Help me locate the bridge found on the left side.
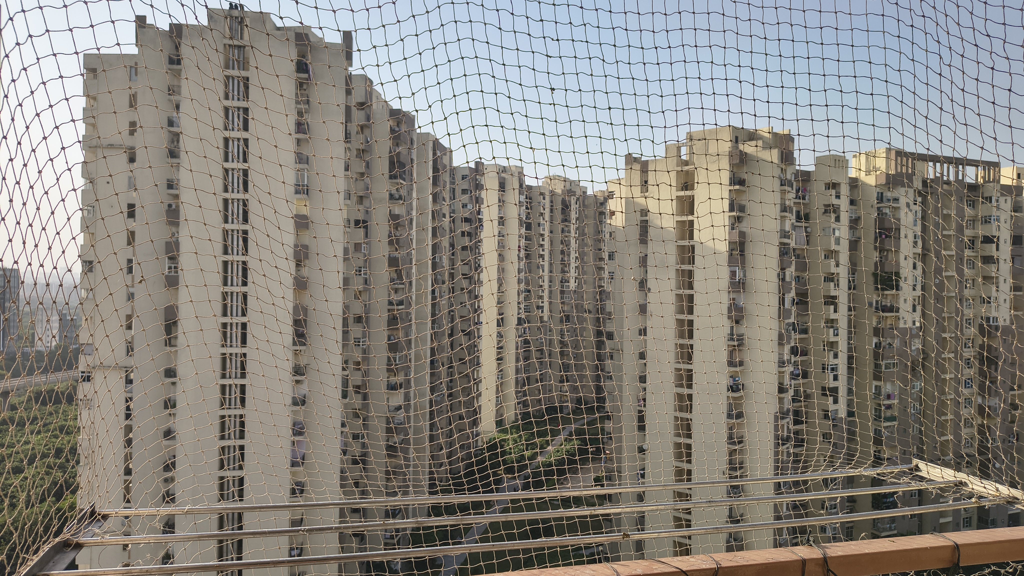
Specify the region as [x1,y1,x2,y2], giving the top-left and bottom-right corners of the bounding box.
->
[0,369,79,395]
